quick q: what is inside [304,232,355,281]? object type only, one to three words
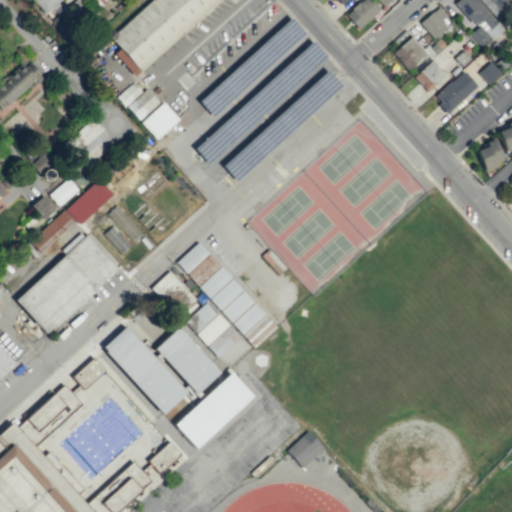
tennis court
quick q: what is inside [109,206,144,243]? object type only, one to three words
greenhouse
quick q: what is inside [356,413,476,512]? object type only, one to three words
baseball field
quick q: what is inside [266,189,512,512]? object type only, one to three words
sports field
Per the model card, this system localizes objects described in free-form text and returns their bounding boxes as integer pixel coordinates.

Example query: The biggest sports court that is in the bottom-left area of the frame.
[61,399,142,478]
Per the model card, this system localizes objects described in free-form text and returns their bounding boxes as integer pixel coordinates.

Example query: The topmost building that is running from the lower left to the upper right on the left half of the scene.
[113,0,223,71]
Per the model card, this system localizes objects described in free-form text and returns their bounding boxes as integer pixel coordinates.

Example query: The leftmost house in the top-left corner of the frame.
[0,60,38,104]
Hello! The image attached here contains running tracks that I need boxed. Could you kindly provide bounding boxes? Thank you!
[223,483,351,512]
